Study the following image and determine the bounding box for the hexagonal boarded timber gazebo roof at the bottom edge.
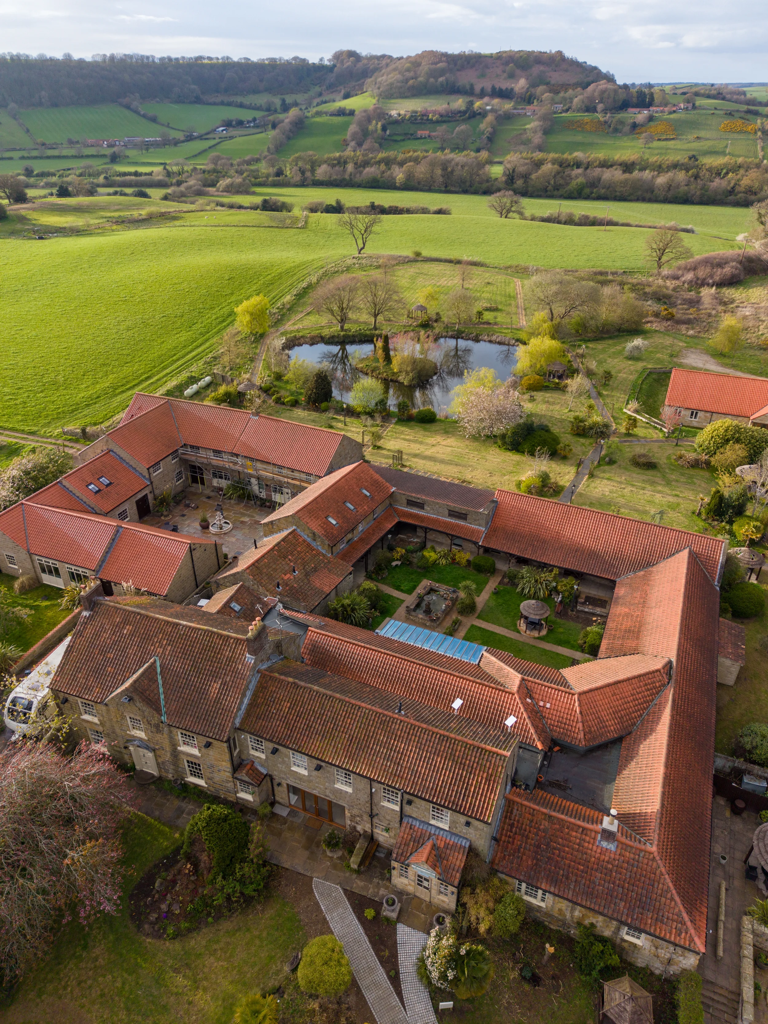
[591,970,664,1024]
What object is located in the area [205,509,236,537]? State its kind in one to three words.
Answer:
fountain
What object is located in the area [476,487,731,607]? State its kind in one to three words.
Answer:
house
